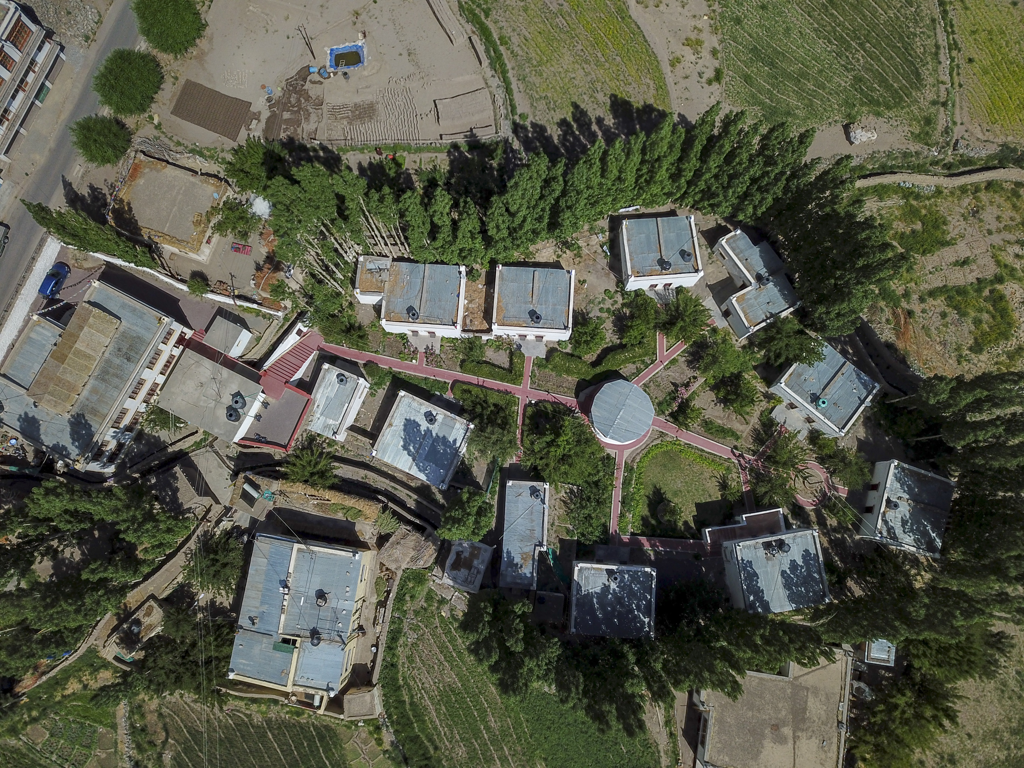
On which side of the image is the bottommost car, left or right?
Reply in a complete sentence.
The bottommost car appears in the left half of the scene.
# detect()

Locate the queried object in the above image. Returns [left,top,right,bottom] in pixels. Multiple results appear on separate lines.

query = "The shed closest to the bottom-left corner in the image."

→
[103,596,174,659]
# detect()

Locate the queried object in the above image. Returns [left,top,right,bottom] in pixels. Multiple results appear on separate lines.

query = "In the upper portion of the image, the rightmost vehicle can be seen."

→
[37,262,74,302]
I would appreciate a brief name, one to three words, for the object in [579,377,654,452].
building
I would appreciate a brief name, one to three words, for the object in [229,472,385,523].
building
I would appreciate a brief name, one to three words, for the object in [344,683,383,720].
shed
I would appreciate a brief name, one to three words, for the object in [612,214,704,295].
house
